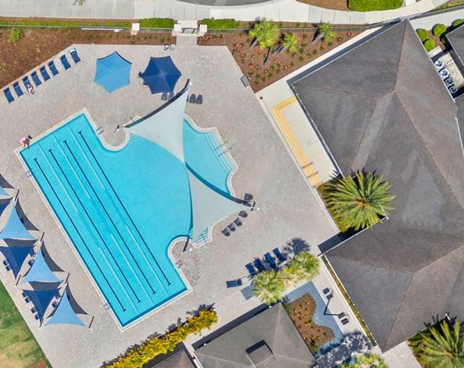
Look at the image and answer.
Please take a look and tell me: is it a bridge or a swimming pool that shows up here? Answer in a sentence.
The image shows a swimming pool.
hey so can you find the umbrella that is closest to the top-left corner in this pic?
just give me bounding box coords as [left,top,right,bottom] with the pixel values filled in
[94,54,131,93]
